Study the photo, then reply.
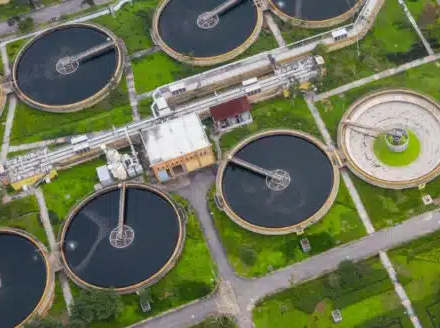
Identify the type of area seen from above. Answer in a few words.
industrial area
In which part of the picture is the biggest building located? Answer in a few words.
center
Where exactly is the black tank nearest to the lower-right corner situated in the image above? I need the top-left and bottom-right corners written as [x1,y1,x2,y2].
[213,129,340,236]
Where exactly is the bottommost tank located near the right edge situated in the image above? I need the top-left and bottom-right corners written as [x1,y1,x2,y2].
[337,89,440,191]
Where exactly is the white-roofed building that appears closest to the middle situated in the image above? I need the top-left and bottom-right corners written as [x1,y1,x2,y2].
[136,108,217,184]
